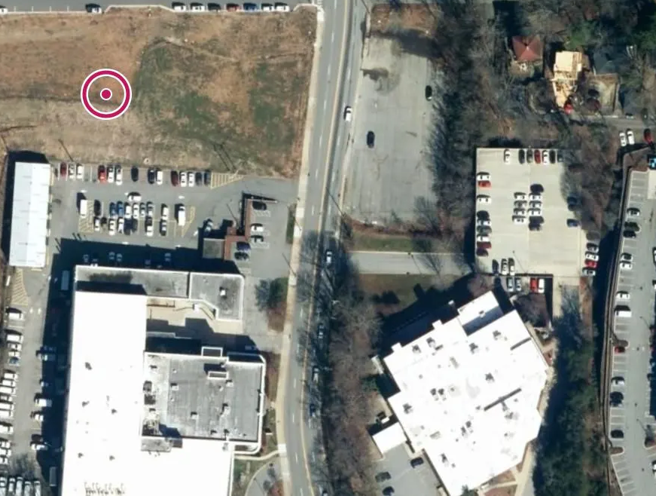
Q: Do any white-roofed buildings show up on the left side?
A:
Yes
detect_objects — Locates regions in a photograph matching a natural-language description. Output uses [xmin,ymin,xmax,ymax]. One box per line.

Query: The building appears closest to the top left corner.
[9,163,51,267]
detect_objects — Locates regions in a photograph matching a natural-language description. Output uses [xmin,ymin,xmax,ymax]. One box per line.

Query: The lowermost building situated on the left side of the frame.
[61,265,266,496]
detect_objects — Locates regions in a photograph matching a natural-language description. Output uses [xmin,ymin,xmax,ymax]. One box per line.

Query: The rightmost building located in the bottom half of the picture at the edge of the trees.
[371,291,548,496]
